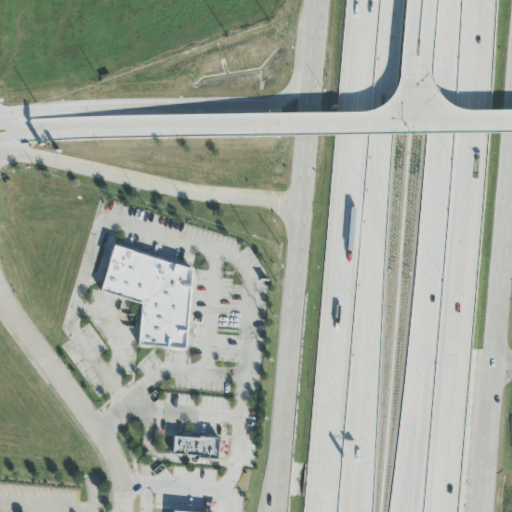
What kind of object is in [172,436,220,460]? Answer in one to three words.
building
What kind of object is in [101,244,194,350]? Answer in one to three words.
building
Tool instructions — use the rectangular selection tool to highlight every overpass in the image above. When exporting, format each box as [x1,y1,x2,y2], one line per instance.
[24,0,512,141]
